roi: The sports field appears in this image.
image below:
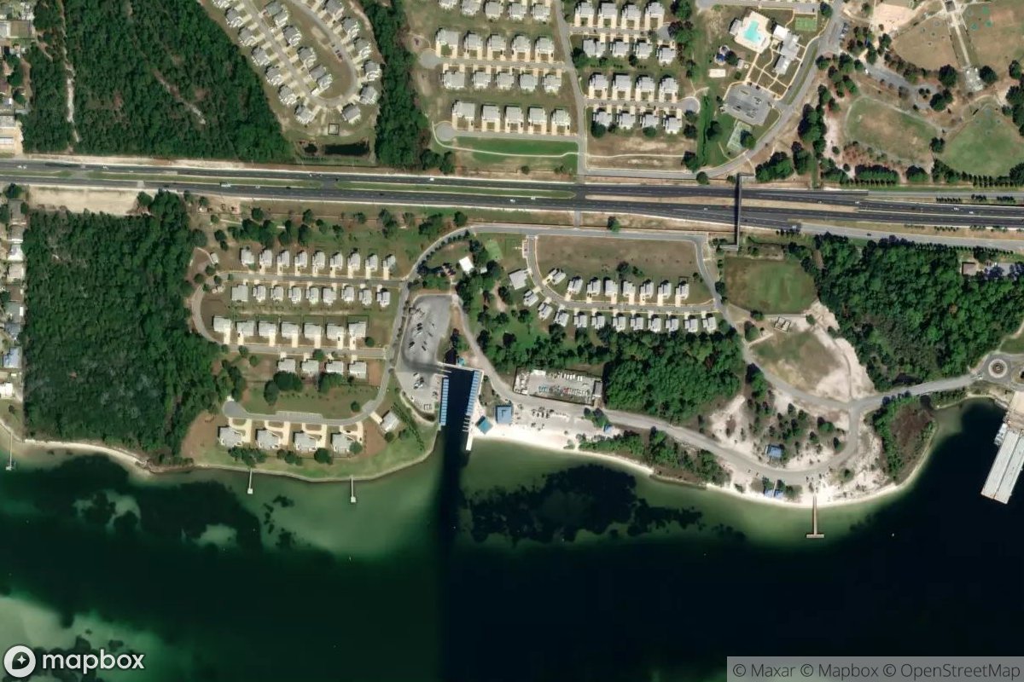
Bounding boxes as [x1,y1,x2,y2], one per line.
[848,98,936,160]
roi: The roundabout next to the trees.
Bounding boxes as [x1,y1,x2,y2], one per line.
[982,352,1014,383]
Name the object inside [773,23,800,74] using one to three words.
building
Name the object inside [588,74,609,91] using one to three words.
house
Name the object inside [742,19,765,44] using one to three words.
swimming pool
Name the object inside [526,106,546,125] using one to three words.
house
